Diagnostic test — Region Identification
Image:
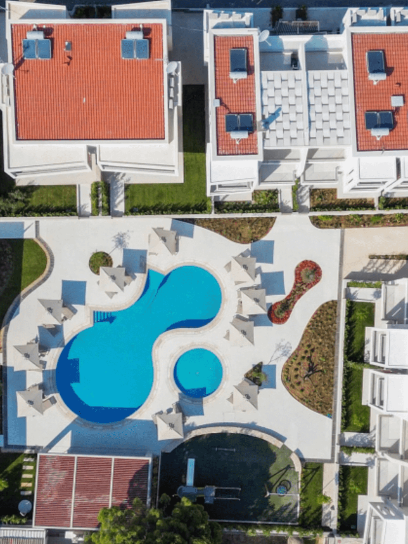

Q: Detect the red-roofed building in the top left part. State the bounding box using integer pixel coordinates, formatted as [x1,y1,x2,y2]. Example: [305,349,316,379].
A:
[0,0,185,182]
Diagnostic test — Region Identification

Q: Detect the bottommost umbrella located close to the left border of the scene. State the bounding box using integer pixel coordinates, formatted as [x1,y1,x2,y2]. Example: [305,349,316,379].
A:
[15,389,45,418]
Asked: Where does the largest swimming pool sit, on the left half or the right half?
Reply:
left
